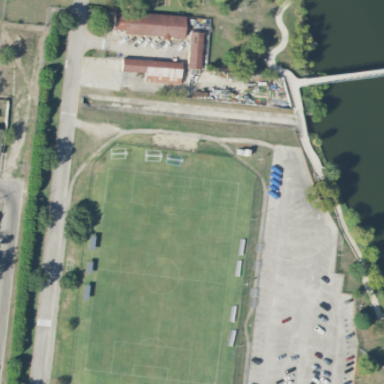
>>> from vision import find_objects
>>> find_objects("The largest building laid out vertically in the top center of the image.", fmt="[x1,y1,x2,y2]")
[190,30,204,69]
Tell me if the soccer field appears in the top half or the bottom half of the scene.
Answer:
bottom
